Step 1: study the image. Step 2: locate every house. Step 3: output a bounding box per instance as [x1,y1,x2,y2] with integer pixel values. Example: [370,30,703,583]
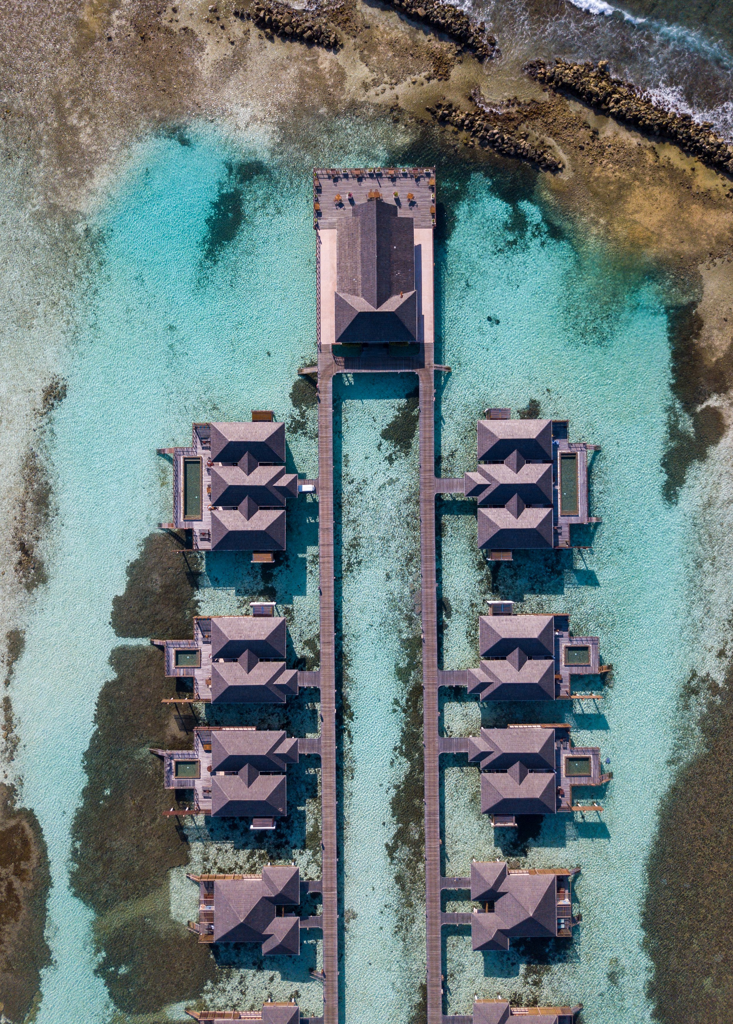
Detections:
[151,724,299,829]
[467,722,611,825]
[187,985,300,1024]
[466,599,610,702]
[153,600,299,704]
[159,409,299,563]
[473,982,582,1024]
[187,851,300,956]
[463,408,599,561]
[470,846,581,951]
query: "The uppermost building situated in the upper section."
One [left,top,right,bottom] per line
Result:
[299,165,450,377]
